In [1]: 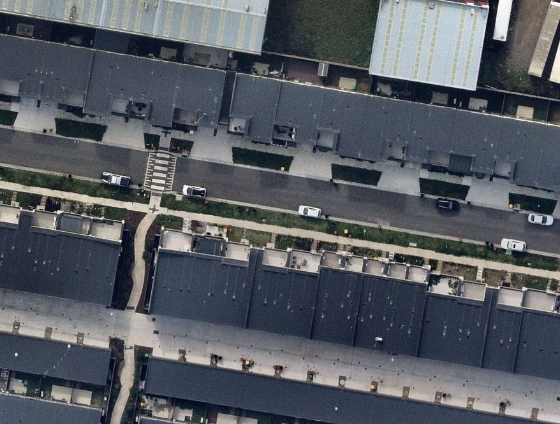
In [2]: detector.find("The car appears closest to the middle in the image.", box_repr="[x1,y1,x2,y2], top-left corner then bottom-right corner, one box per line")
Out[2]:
[298,204,322,217]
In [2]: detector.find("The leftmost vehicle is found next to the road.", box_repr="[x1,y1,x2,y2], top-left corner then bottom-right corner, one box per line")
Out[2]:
[101,173,132,188]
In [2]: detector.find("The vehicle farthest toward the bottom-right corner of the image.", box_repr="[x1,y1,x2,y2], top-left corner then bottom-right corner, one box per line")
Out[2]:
[501,239,526,252]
